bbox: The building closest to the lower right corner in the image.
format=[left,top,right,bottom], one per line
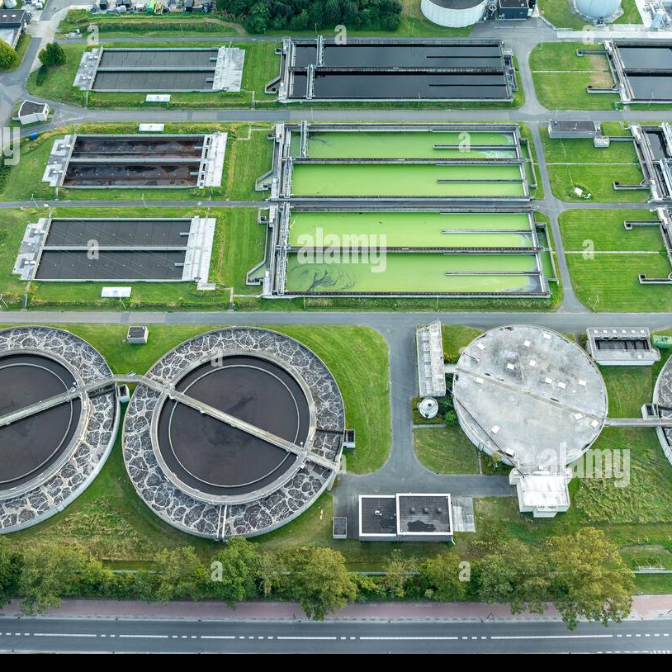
[506,464,572,515]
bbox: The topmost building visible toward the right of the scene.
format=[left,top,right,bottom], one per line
[495,0,529,18]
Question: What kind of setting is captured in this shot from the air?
industrial area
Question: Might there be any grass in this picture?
Yes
